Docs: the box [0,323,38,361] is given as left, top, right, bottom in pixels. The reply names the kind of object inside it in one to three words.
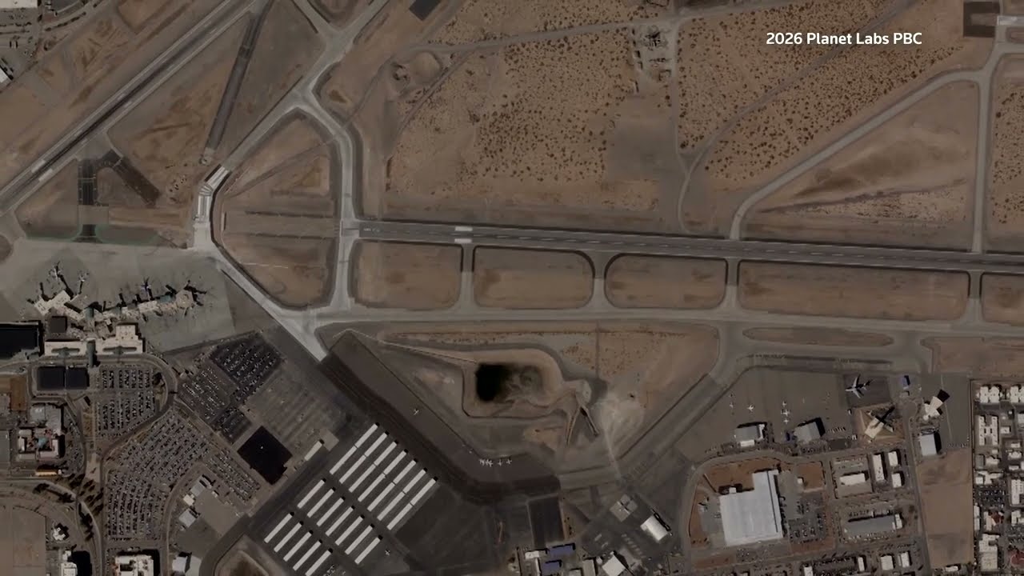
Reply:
building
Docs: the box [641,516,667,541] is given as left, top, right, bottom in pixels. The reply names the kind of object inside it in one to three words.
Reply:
hangar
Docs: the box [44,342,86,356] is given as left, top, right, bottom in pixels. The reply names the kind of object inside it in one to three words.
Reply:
building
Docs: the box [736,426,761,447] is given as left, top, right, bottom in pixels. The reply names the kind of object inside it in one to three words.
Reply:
hangar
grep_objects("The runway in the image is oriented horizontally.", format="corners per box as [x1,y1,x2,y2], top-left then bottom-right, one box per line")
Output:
[359,218,1024,276]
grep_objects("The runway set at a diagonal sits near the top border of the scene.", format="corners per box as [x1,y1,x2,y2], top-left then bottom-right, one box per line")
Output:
[0,0,261,218]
